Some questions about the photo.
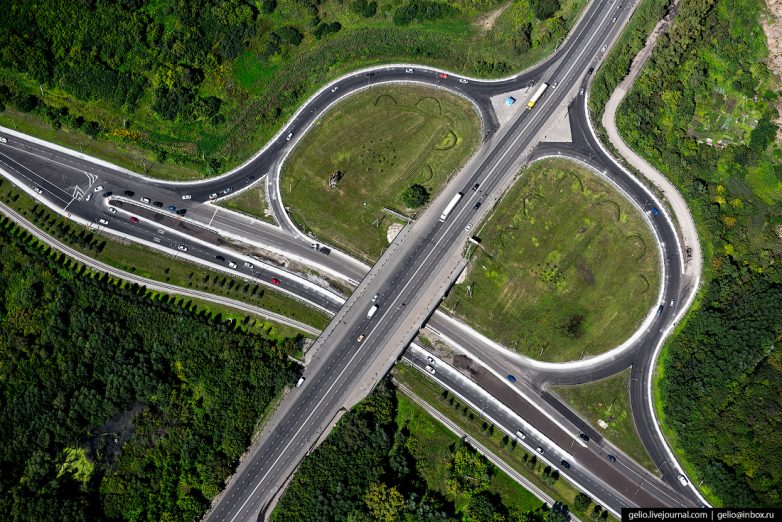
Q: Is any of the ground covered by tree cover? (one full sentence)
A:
Yes, there's tree cover in this view.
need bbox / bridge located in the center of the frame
[302,214,467,396]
